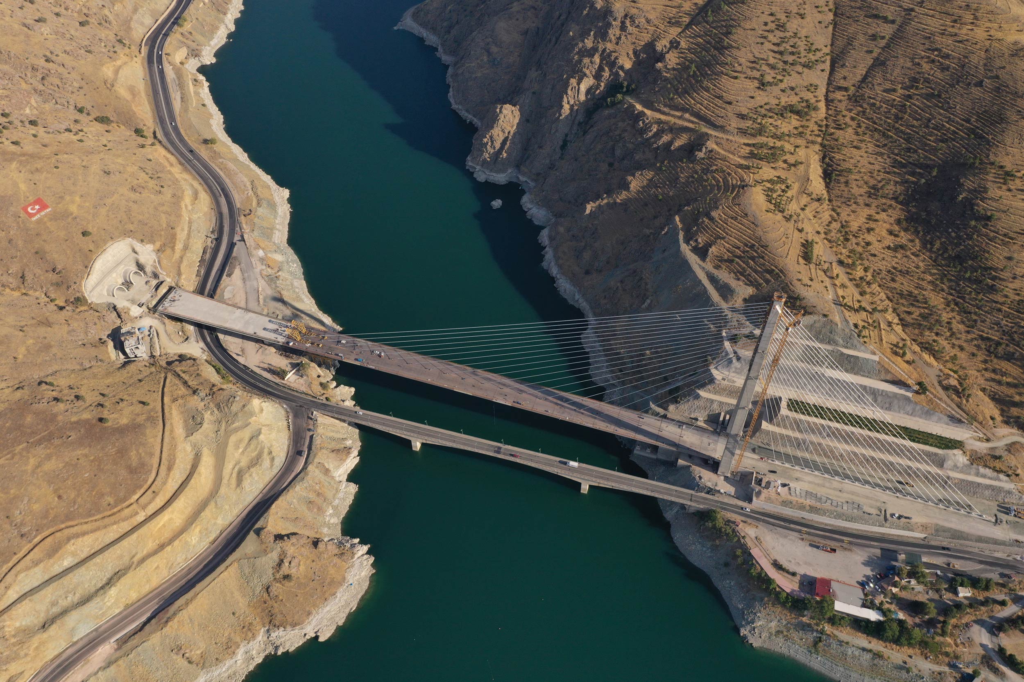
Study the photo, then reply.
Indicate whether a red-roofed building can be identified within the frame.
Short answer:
Yes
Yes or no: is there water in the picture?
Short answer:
Yes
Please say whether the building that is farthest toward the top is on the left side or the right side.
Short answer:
left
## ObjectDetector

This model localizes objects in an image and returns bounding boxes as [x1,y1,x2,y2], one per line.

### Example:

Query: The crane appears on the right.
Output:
[735,309,807,466]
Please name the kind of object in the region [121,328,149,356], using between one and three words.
building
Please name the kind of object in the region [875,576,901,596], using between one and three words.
house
